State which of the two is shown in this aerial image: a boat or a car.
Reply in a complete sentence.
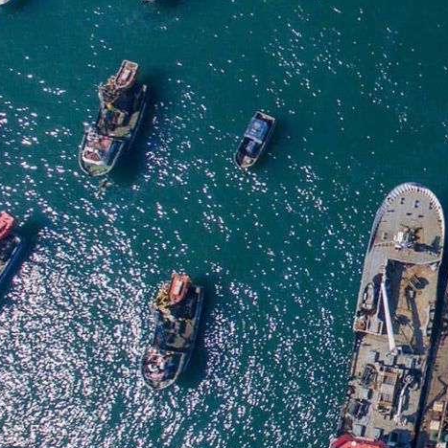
It is a boat that can be seen here.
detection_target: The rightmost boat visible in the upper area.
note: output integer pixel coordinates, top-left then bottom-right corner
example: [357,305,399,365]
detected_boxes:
[237,111,276,170]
